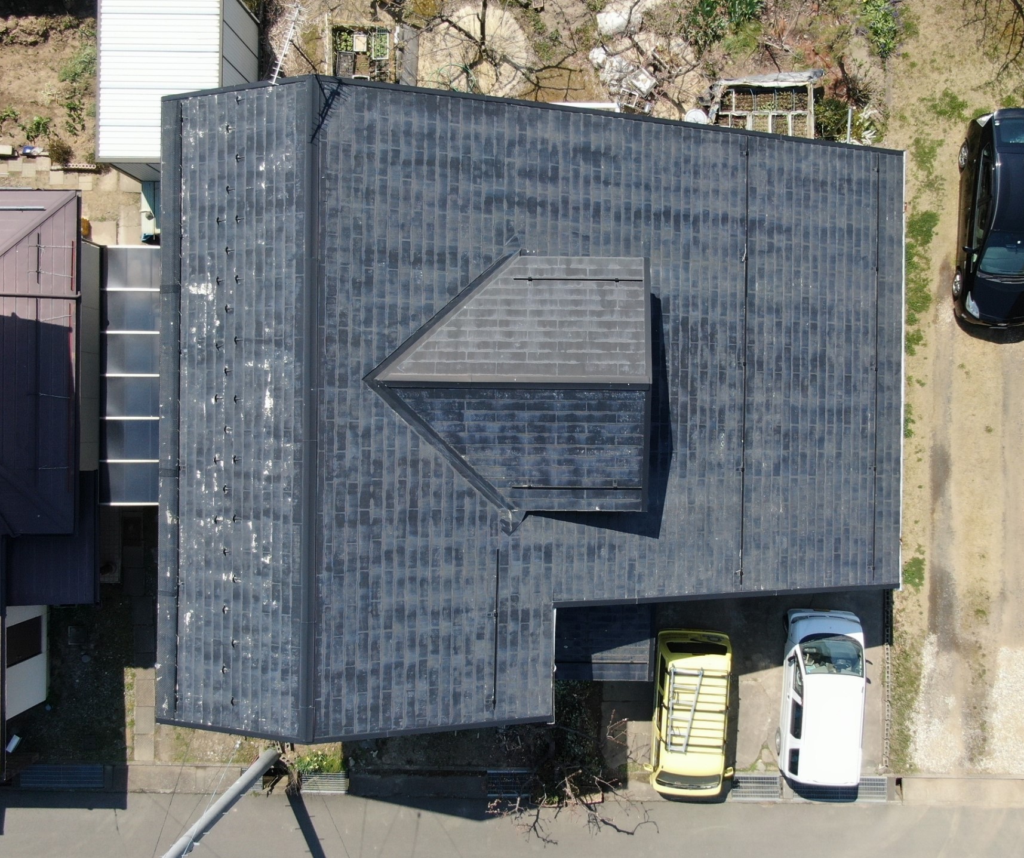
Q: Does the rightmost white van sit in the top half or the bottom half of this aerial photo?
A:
bottom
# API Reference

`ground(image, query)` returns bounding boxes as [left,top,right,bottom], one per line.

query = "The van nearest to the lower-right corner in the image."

[771,607,869,790]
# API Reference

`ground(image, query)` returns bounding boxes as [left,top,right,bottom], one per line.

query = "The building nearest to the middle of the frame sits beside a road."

[152,74,906,746]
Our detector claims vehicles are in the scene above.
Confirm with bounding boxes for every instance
[952,110,1024,331]
[642,631,739,803]
[771,607,869,790]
